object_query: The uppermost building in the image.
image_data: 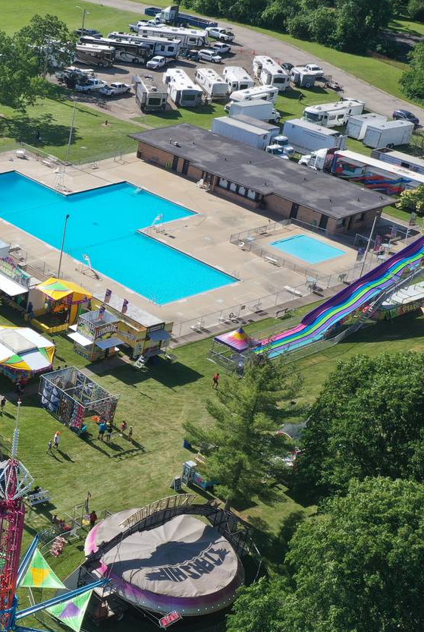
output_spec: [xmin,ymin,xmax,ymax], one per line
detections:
[128,123,400,238]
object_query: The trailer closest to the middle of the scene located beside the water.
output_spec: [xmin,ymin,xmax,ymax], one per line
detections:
[75,281,172,368]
